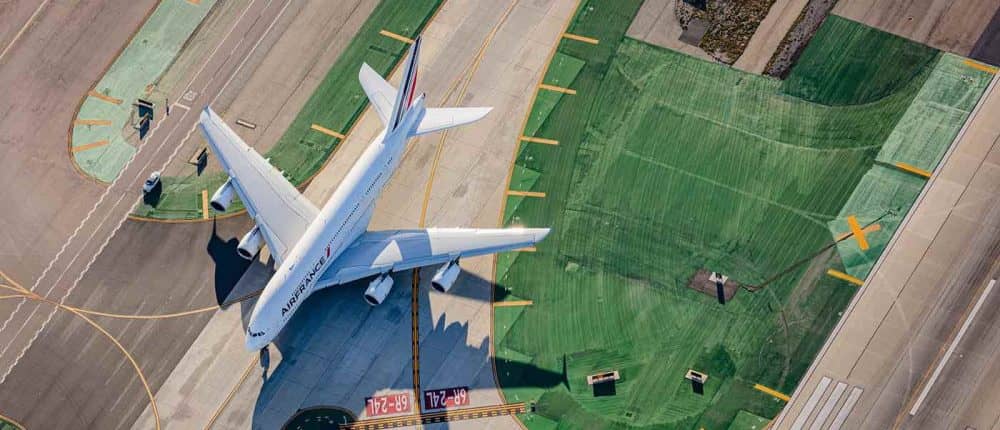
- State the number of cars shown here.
one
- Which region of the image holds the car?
left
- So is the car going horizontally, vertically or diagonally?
diagonally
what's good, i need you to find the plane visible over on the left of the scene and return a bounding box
[199,39,552,351]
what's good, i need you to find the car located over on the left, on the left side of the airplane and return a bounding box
[141,173,161,194]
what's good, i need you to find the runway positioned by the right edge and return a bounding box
[753,60,1000,430]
